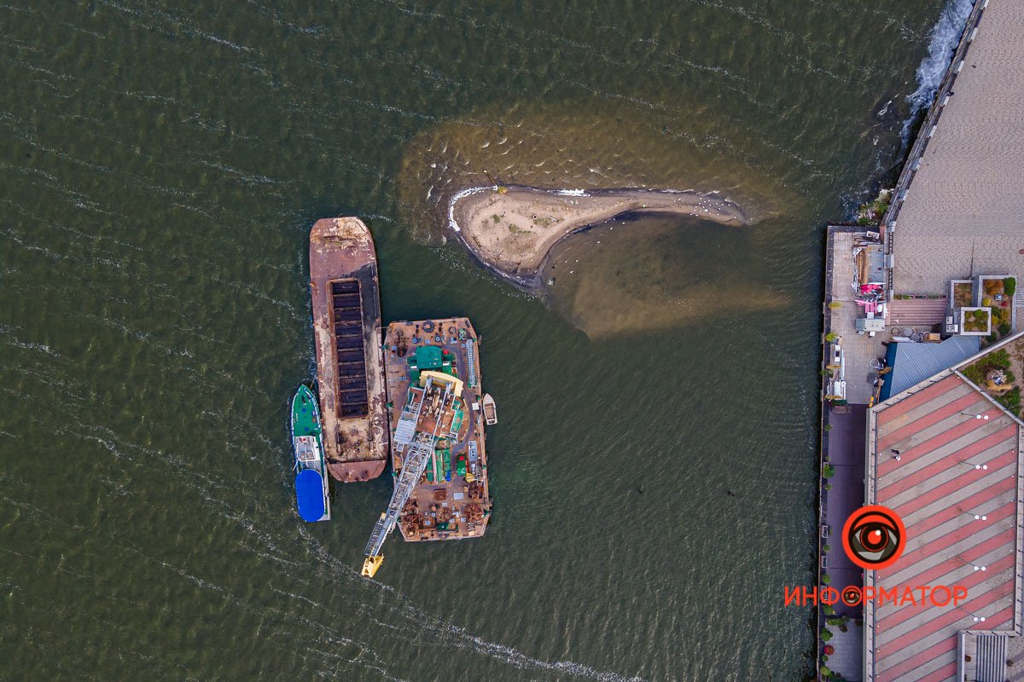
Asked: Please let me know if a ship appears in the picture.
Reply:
Yes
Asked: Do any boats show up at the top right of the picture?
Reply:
No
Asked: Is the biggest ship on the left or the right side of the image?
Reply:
left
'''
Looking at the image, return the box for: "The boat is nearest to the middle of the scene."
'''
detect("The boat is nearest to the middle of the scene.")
[483,393,497,424]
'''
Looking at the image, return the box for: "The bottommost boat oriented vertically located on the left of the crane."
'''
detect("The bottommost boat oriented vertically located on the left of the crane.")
[290,384,332,522]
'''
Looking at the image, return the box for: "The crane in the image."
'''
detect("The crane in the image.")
[362,377,470,577]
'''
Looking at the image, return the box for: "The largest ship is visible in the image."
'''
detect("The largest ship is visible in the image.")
[309,216,390,483]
